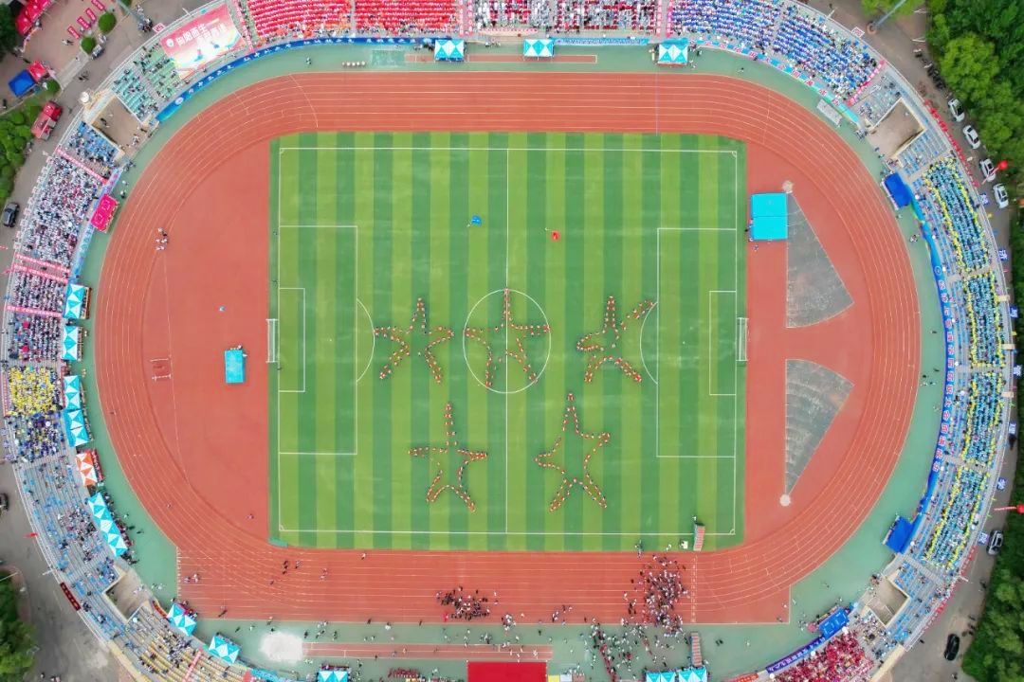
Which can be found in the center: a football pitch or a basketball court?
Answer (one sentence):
You can see a football pitch in the center.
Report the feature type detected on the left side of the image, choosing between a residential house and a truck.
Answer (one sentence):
You can see a truck on the left side of the image.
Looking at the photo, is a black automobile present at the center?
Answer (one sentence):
No, no black automobile is visible at the center.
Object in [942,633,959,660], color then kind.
black car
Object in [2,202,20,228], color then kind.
gray car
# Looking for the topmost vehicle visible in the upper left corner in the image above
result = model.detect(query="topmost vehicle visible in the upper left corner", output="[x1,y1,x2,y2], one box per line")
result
[91,45,108,60]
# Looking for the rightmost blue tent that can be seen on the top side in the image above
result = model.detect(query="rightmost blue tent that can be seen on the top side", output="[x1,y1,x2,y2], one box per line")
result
[881,173,911,208]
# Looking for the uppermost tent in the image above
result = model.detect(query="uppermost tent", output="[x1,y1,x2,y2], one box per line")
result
[15,0,55,37]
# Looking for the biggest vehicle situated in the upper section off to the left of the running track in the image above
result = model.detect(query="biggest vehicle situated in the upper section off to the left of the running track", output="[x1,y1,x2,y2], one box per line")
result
[27,99,65,141]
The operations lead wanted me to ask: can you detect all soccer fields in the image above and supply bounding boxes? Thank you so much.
[271,131,746,550]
